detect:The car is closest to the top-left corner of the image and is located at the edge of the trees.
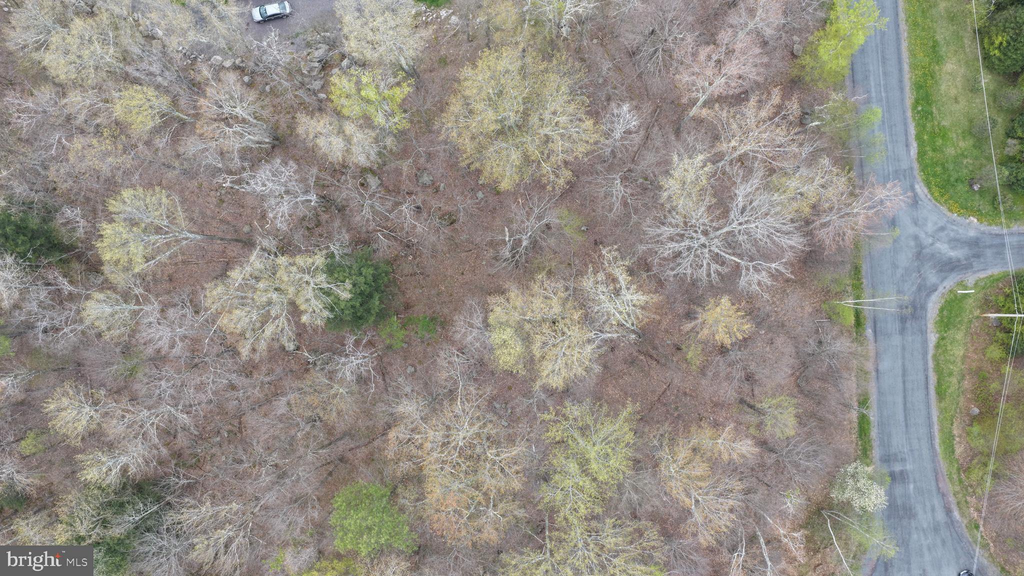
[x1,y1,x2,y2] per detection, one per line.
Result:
[251,1,292,24]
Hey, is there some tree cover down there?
Yes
